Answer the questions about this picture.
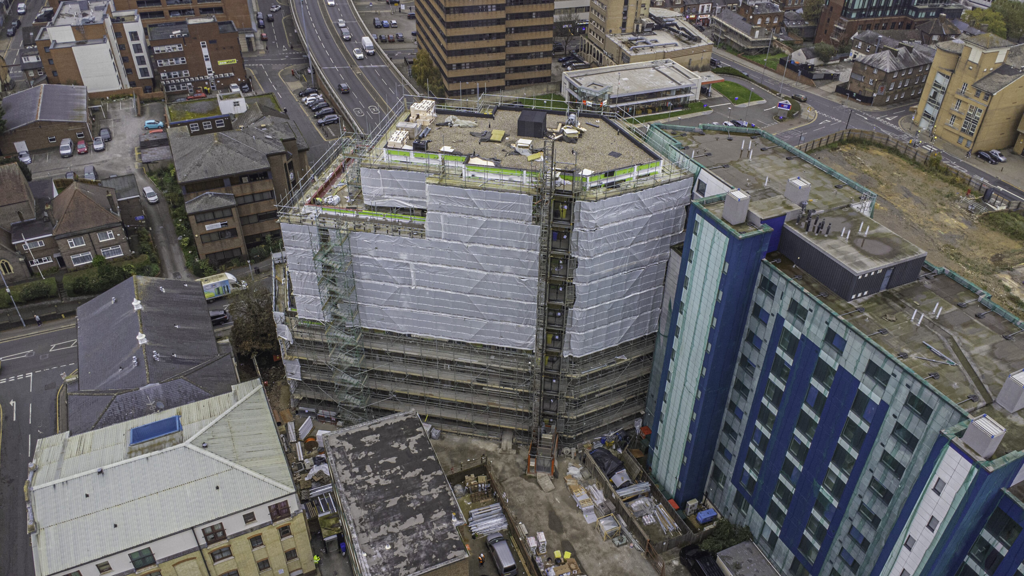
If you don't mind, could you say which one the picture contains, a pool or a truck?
truck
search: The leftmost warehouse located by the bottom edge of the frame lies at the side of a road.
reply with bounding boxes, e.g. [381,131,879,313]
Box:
[15,381,308,576]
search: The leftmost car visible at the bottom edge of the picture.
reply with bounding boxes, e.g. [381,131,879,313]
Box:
[483,529,524,576]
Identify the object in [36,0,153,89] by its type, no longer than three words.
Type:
building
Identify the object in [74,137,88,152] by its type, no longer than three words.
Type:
car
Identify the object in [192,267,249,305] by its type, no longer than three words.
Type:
truck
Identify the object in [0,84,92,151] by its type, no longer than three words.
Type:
shed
